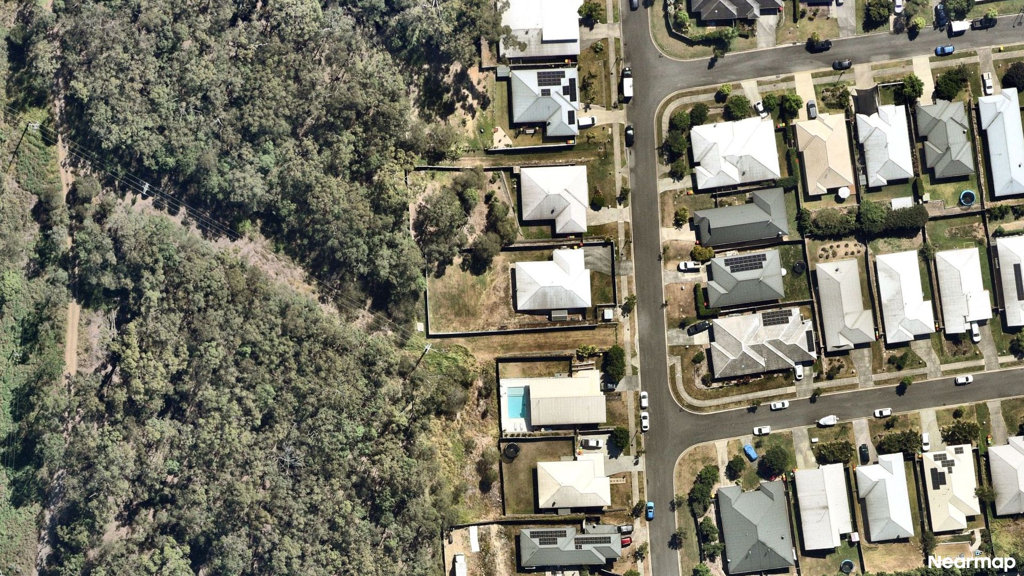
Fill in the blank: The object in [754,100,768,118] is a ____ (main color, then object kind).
white car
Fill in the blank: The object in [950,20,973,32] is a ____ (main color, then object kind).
white vehicle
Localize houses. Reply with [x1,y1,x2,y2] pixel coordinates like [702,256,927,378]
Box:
[876,250,937,344]
[710,307,818,378]
[857,105,916,187]
[691,0,783,19]
[997,235,1024,326]
[520,165,589,234]
[795,463,853,550]
[520,524,622,567]
[816,258,876,352]
[515,248,591,310]
[989,436,1024,516]
[707,249,785,308]
[530,370,606,425]
[499,0,584,57]
[718,480,794,574]
[691,116,782,190]
[923,443,982,532]
[537,453,611,509]
[694,187,791,246]
[979,88,1024,196]
[796,114,855,195]
[916,97,975,178]
[511,67,580,136]
[936,247,994,334]
[857,452,916,542]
